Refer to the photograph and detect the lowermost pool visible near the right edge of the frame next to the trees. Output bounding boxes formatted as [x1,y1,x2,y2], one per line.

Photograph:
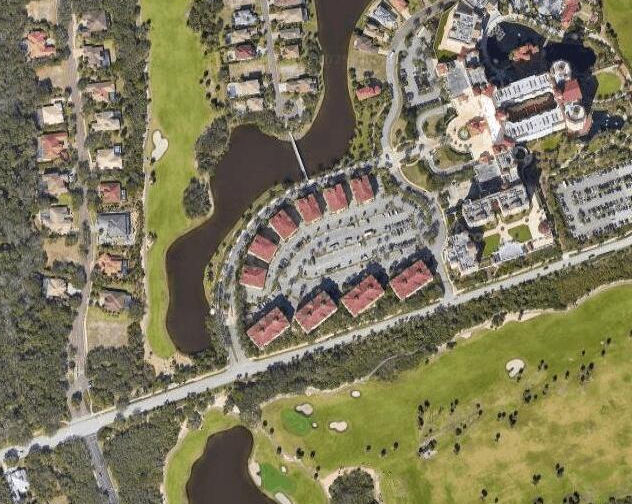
[593,110,625,131]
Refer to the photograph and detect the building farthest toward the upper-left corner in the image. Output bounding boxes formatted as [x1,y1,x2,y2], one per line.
[25,31,55,59]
